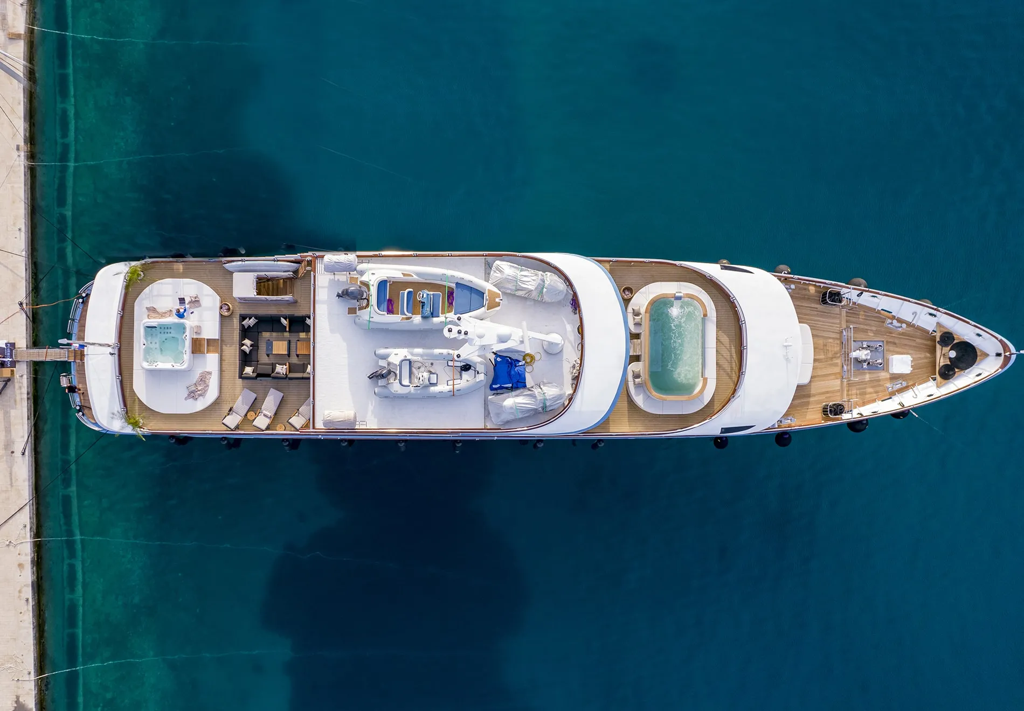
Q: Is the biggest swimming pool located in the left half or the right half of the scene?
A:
right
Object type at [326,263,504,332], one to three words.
boat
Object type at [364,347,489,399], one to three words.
boat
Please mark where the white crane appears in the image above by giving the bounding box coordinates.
[444,315,566,360]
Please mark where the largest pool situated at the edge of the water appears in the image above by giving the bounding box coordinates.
[627,281,717,416]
